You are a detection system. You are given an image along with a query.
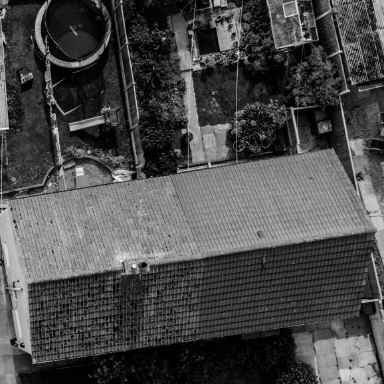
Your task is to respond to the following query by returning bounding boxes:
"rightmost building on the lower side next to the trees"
[170,148,382,342]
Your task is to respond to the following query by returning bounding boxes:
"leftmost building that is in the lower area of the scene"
[0,172,207,365]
